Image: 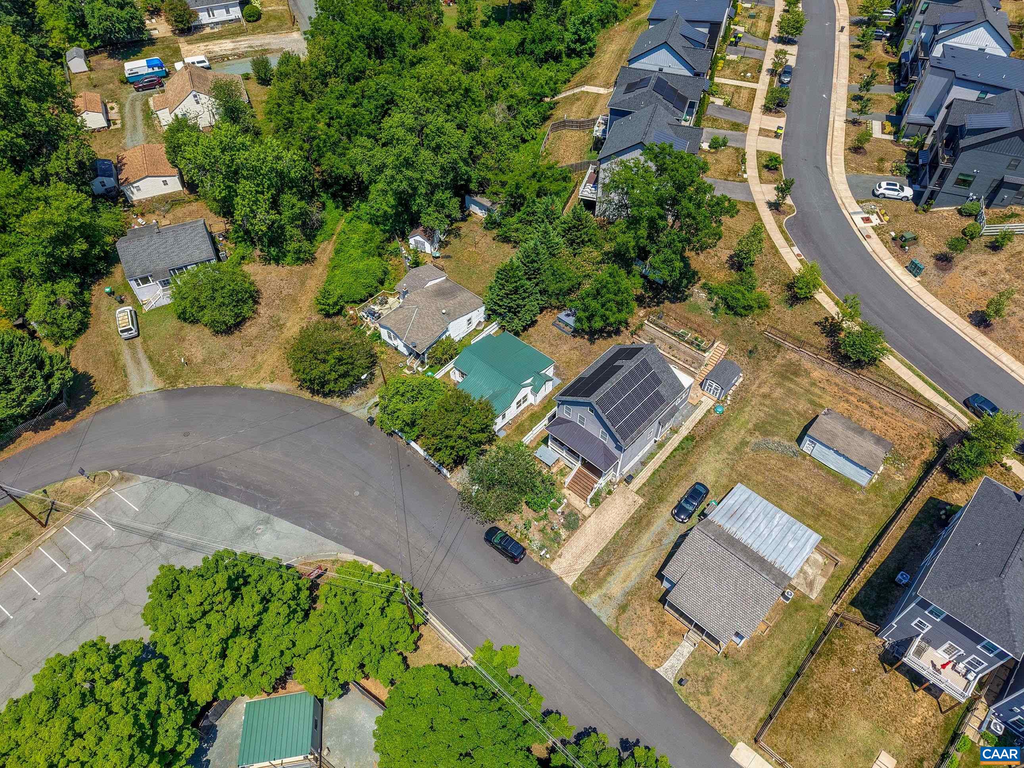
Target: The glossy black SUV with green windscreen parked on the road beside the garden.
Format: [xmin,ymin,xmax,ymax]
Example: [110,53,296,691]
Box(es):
[479,524,529,565]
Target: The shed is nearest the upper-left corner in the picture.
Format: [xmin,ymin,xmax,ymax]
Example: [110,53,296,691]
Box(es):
[67,48,90,74]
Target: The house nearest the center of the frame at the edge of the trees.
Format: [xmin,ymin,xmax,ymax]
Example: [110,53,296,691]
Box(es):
[453,331,555,429]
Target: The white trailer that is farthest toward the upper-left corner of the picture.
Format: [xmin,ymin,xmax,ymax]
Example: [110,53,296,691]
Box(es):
[124,57,169,80]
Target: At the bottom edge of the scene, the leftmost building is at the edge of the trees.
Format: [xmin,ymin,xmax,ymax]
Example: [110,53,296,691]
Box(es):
[238,691,322,768]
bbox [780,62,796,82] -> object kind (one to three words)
car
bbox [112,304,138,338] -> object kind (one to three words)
car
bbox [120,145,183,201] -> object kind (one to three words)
building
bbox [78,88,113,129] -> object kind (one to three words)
shed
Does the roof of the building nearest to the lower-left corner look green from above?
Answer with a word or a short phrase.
Yes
